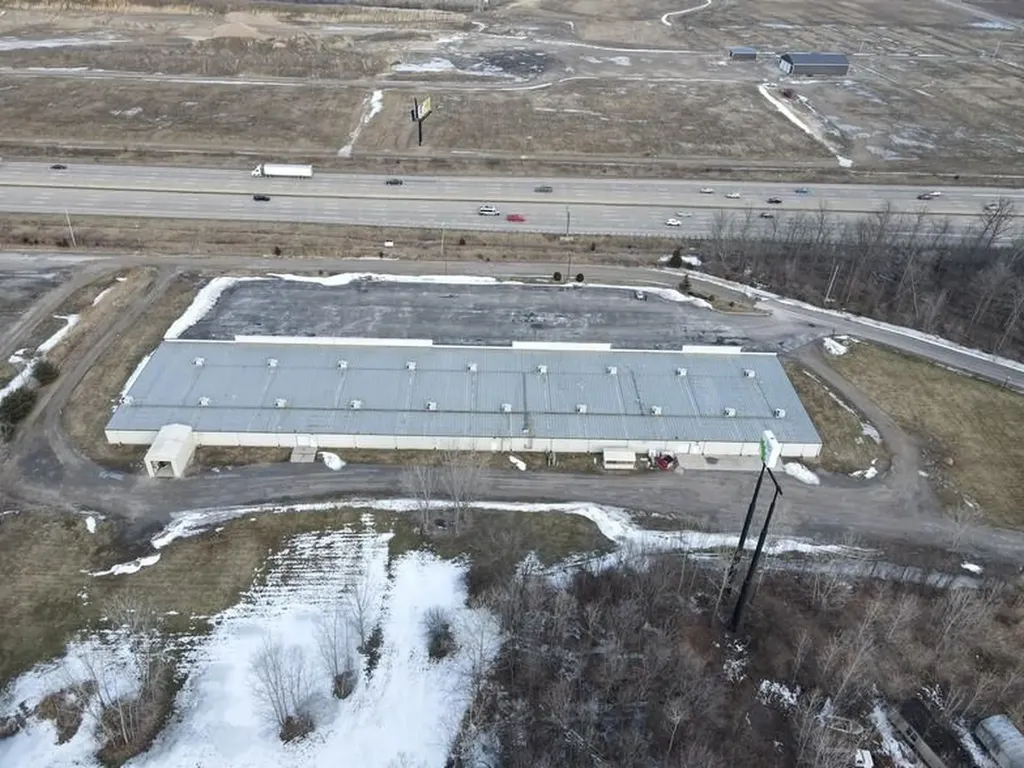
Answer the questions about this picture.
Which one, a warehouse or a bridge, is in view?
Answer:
warehouse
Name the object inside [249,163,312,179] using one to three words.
vehicle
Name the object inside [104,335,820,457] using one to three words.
warehouse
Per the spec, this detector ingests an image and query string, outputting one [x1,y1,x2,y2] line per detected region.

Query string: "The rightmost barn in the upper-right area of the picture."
[781,54,852,77]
